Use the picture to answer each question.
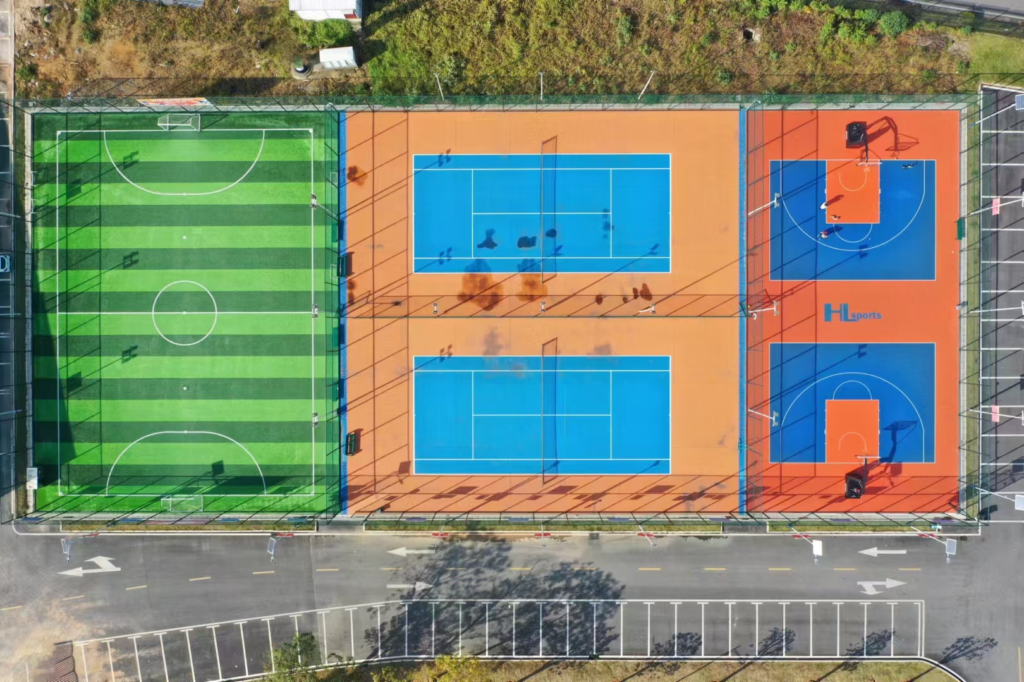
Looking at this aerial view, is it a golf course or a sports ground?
sports ground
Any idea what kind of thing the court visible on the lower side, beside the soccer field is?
tennis court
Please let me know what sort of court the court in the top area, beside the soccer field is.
tennis court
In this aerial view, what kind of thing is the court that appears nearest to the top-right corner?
basketball court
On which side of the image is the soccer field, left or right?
left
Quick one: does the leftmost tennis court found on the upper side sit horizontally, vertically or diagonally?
horizontally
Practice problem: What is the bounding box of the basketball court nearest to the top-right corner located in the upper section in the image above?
[769,160,936,281]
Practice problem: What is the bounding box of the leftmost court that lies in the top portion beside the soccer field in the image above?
[413,153,671,273]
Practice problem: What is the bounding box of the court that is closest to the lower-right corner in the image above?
[769,343,936,464]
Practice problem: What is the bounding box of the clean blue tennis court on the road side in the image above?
[413,356,671,475]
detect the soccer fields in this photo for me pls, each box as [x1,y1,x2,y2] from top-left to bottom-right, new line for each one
[32,113,342,512]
